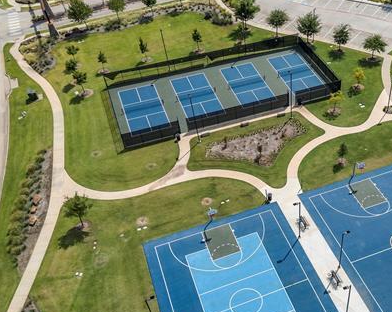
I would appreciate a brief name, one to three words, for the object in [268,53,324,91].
sports court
